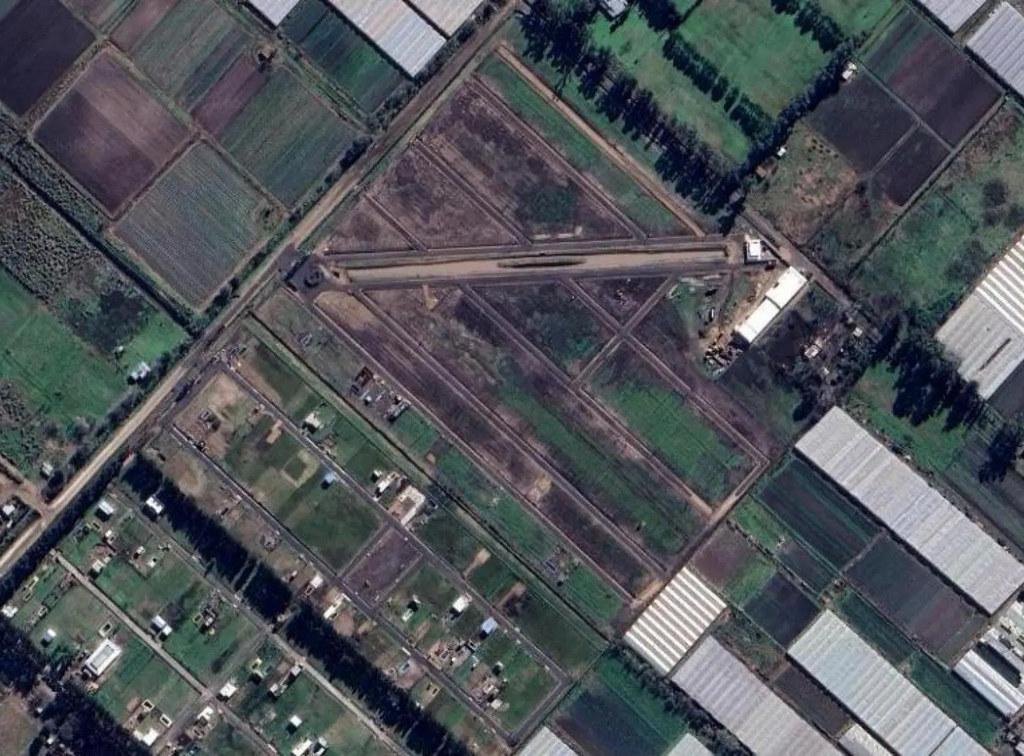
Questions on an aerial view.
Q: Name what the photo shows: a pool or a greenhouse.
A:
greenhouse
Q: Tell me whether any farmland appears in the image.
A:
Yes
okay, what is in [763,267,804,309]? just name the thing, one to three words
building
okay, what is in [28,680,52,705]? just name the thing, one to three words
barn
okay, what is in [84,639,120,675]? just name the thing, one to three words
house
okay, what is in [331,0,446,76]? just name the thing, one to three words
greenhouse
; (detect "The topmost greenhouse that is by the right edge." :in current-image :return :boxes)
[922,0,984,31]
